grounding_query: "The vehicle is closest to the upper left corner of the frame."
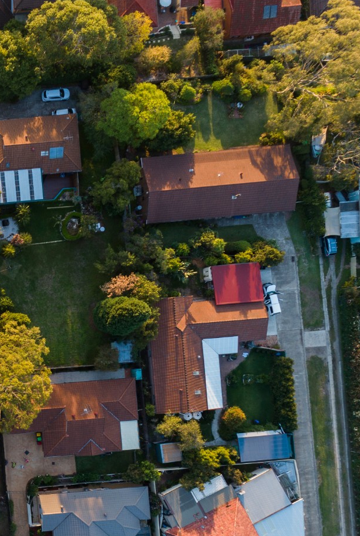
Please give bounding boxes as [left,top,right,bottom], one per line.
[42,86,71,101]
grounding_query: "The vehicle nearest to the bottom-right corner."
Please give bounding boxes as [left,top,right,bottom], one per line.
[264,282,287,316]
